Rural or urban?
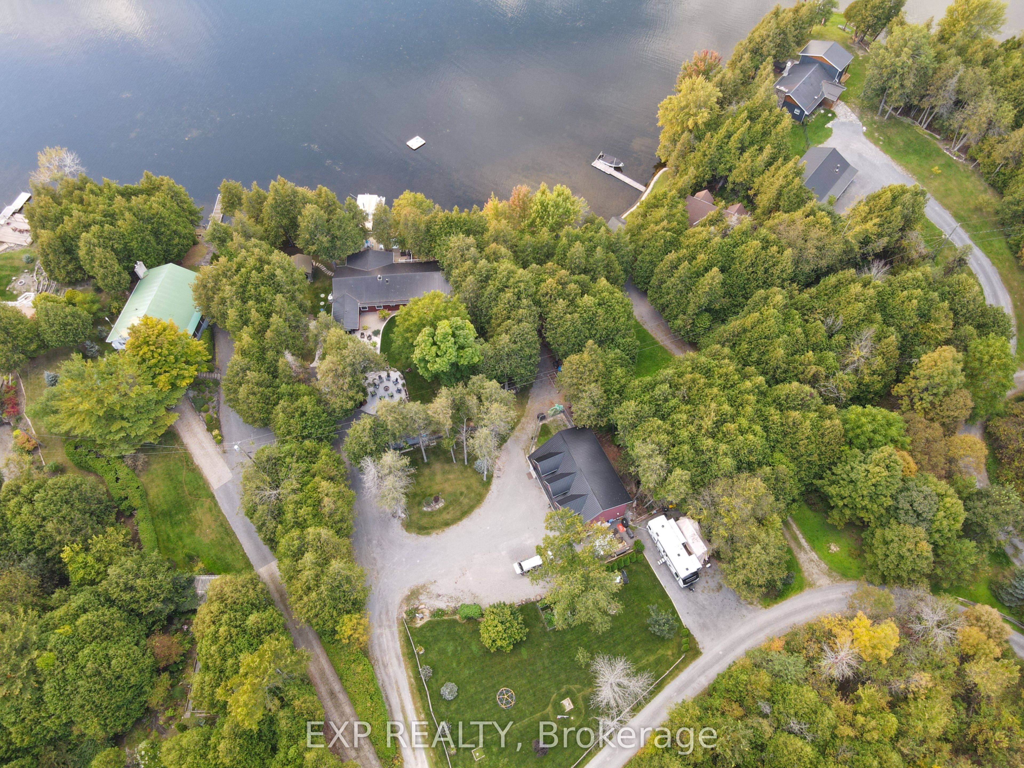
rural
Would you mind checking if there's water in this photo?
Yes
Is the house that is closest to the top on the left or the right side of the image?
right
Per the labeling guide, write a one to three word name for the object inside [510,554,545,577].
car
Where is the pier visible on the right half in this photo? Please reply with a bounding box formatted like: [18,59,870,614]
[590,157,648,194]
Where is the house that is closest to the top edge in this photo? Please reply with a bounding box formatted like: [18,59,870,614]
[770,39,855,120]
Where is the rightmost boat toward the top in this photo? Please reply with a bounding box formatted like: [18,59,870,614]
[597,153,624,168]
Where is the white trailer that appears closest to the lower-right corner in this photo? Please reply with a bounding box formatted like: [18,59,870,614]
[645,514,701,587]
